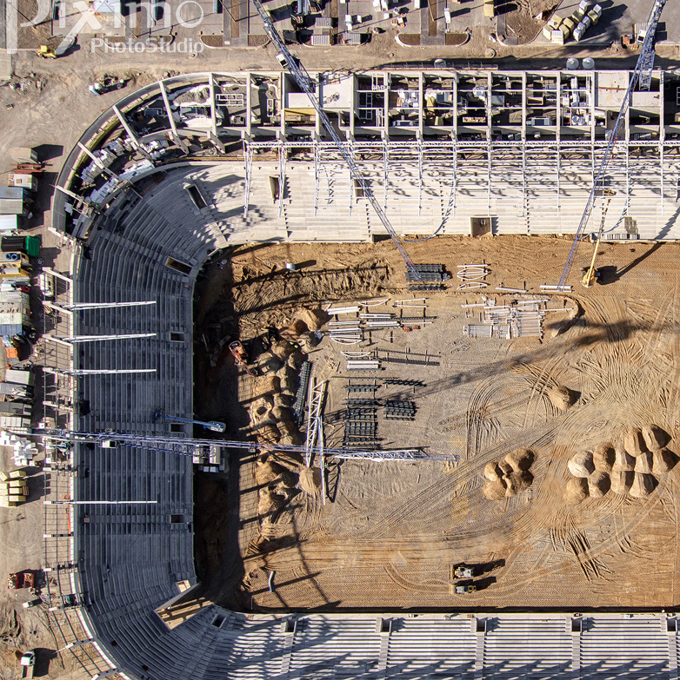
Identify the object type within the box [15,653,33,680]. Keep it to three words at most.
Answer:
vehicle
